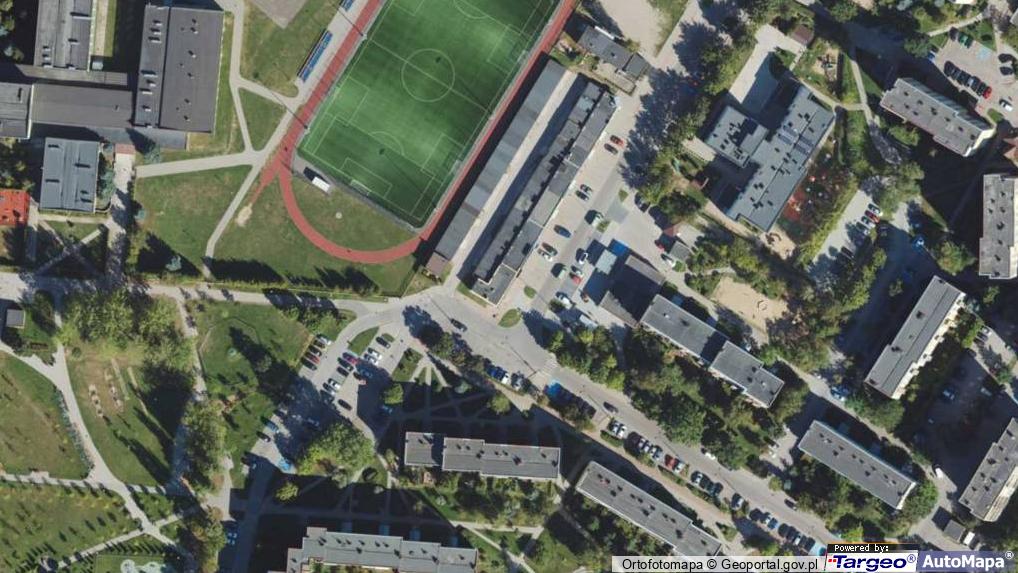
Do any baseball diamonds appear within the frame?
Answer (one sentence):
No, the frame has no baseball diamond in it.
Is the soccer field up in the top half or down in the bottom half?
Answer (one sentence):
Seen from above, the soccer field lies in the top half of the view.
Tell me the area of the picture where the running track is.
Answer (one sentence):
Look in the top portion of the view to spot the running track.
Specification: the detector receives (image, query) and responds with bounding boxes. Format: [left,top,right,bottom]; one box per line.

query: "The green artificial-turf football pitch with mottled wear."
[299,0,561,225]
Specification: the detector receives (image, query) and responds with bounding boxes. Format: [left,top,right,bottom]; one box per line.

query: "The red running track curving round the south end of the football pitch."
[251,0,578,263]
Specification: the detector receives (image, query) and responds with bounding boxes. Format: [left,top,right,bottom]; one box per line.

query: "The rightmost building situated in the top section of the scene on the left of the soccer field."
[135,5,228,133]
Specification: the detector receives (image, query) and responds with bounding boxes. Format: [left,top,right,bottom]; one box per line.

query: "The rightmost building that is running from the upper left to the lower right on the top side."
[881,76,988,158]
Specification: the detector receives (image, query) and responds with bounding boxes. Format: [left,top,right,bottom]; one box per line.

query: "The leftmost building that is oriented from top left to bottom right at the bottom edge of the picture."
[577,461,728,573]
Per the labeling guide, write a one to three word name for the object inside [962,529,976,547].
vehicle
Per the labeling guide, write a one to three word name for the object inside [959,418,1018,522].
building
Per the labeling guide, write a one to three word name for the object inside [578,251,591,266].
vehicle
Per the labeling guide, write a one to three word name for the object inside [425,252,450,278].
shed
